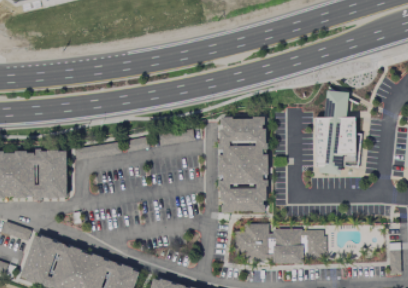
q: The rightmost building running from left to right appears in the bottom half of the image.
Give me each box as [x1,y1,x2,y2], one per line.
[238,224,328,264]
